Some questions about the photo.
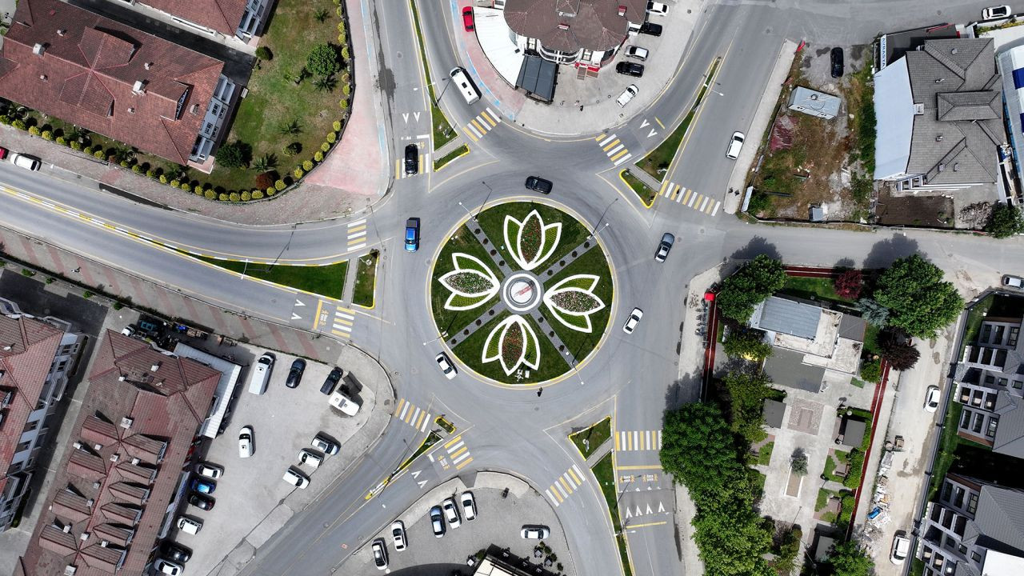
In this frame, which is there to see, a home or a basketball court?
home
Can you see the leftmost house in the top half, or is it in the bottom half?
bottom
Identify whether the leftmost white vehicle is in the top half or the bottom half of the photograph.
top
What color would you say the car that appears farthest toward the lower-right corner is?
white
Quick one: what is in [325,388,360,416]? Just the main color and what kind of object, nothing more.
white trailer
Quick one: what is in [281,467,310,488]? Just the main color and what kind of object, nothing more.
white vehicle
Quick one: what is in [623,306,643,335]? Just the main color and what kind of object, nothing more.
white car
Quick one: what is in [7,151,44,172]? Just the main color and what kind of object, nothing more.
white vehicle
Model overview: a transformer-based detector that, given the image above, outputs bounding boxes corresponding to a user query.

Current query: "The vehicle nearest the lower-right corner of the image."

[888,531,908,566]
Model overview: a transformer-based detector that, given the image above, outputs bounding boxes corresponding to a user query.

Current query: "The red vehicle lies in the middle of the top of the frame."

[461,6,474,32]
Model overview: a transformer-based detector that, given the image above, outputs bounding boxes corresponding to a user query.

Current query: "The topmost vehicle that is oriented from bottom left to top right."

[616,82,639,109]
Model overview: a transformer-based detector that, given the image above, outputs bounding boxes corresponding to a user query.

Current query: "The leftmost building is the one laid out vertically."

[0,294,92,503]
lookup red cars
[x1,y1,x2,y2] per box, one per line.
[461,6,474,32]
[0,148,6,161]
